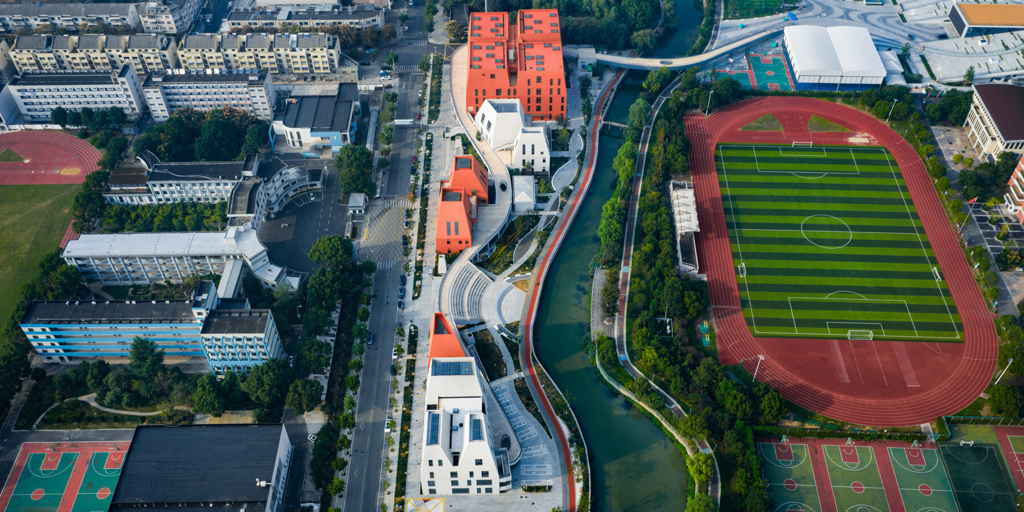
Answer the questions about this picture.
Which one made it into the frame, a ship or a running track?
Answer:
running track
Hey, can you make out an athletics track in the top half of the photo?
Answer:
Yes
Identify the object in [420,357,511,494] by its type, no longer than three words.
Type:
building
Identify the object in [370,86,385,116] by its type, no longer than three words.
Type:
shed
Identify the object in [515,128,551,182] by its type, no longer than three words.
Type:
building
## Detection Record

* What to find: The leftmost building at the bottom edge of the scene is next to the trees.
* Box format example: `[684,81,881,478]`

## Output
[106,424,291,512]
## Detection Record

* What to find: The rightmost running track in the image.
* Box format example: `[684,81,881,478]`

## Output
[682,97,1000,428]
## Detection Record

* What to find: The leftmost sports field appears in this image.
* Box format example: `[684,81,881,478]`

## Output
[0,184,85,320]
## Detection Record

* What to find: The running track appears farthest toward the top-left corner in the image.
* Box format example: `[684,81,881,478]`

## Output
[0,131,99,184]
